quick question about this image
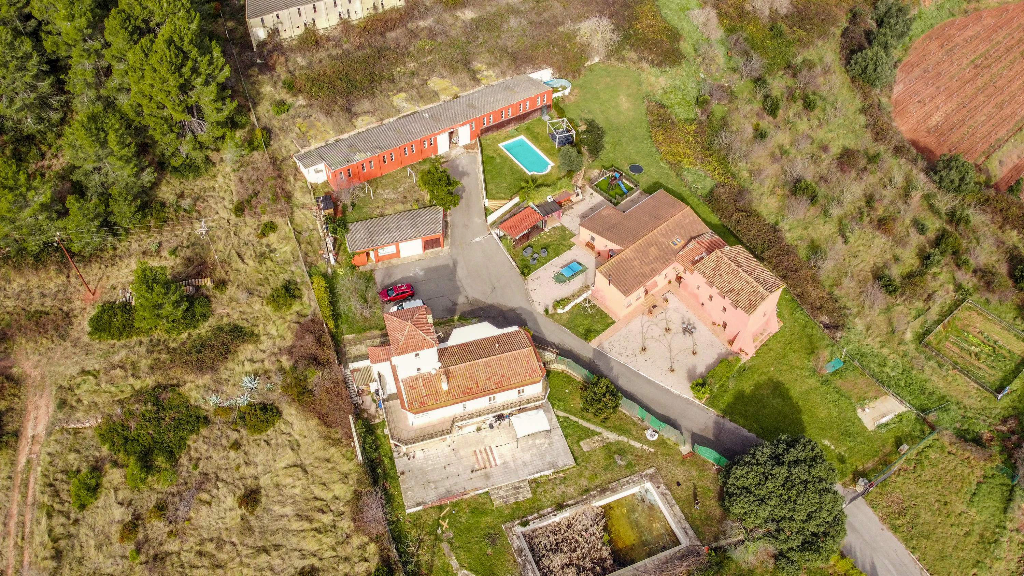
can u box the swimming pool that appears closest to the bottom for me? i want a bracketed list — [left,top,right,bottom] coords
[500,135,553,175]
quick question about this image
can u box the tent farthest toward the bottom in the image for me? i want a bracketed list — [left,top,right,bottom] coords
[509,408,551,441]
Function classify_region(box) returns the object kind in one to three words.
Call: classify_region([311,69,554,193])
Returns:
building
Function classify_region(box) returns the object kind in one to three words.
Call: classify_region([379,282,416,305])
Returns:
car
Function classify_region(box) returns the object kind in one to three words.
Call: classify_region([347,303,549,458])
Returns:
house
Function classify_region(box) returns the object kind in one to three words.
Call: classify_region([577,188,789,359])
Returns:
house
